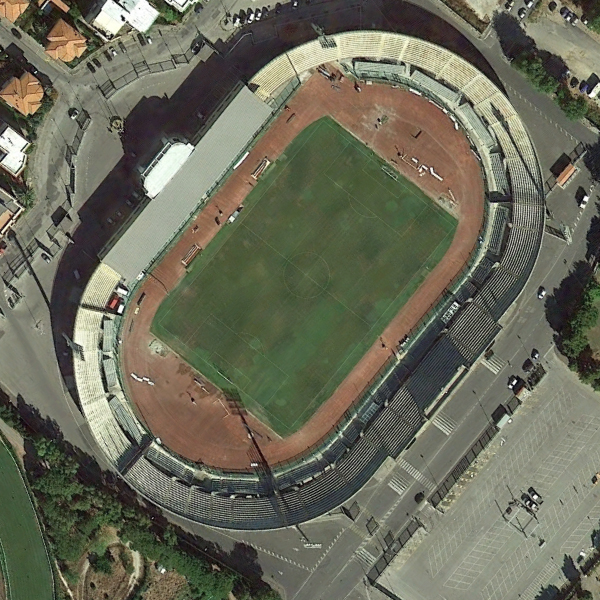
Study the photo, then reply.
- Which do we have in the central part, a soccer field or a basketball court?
soccer field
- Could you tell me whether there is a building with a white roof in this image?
Yes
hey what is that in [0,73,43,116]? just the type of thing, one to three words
house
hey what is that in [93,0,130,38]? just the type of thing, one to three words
building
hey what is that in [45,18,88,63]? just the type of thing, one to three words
house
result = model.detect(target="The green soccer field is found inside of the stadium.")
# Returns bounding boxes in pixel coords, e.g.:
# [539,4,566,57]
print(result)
[150,116,458,440]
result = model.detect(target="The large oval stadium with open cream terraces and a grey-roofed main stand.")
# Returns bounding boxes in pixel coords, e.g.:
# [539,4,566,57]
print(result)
[69,26,548,532]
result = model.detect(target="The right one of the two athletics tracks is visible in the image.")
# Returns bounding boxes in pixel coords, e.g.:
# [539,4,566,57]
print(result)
[122,64,485,469]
